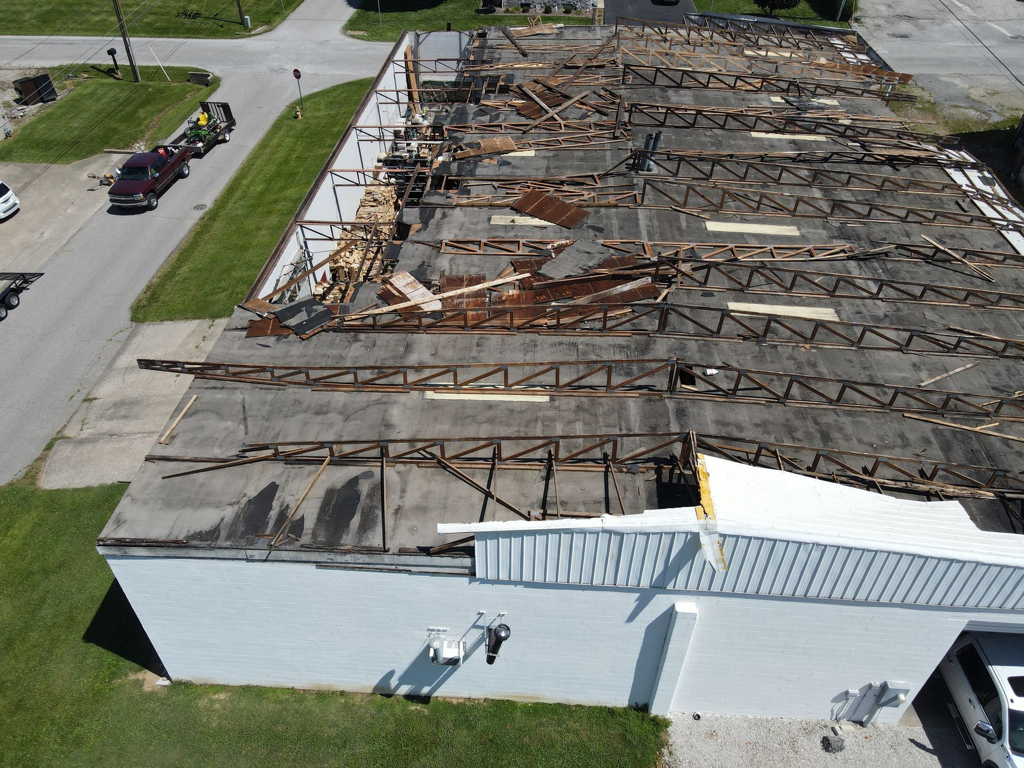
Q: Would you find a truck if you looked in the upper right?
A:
No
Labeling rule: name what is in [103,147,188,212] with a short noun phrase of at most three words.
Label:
truck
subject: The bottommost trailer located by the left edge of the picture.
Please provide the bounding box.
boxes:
[0,244,36,317]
